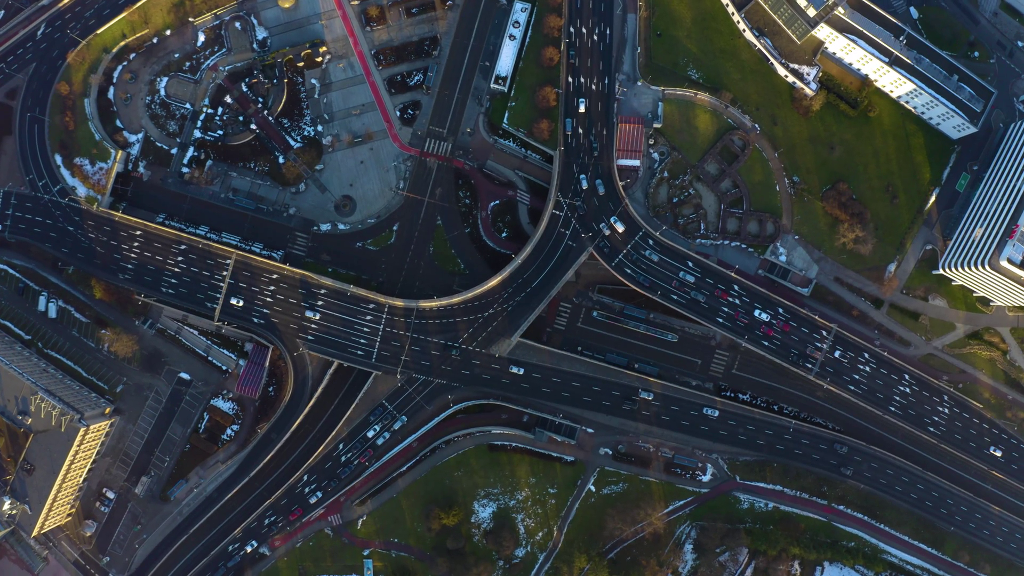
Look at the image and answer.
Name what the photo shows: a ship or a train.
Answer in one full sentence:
It is a train that can be seen here.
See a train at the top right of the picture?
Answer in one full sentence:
No, no train can be made out at the top right of the picture.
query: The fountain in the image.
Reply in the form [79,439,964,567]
[334,194,356,217]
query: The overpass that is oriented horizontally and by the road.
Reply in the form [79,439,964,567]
[99,155,592,374]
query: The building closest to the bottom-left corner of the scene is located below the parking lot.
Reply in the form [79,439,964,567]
[0,527,57,573]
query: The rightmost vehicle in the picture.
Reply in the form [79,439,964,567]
[989,446,1005,458]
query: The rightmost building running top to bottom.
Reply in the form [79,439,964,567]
[932,104,1024,306]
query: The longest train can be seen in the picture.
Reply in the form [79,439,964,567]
[591,311,677,340]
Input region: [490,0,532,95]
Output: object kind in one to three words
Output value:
building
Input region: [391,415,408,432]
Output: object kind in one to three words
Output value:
vehicle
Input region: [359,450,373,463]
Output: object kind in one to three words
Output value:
vehicle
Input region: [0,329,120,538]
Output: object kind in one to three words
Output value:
building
